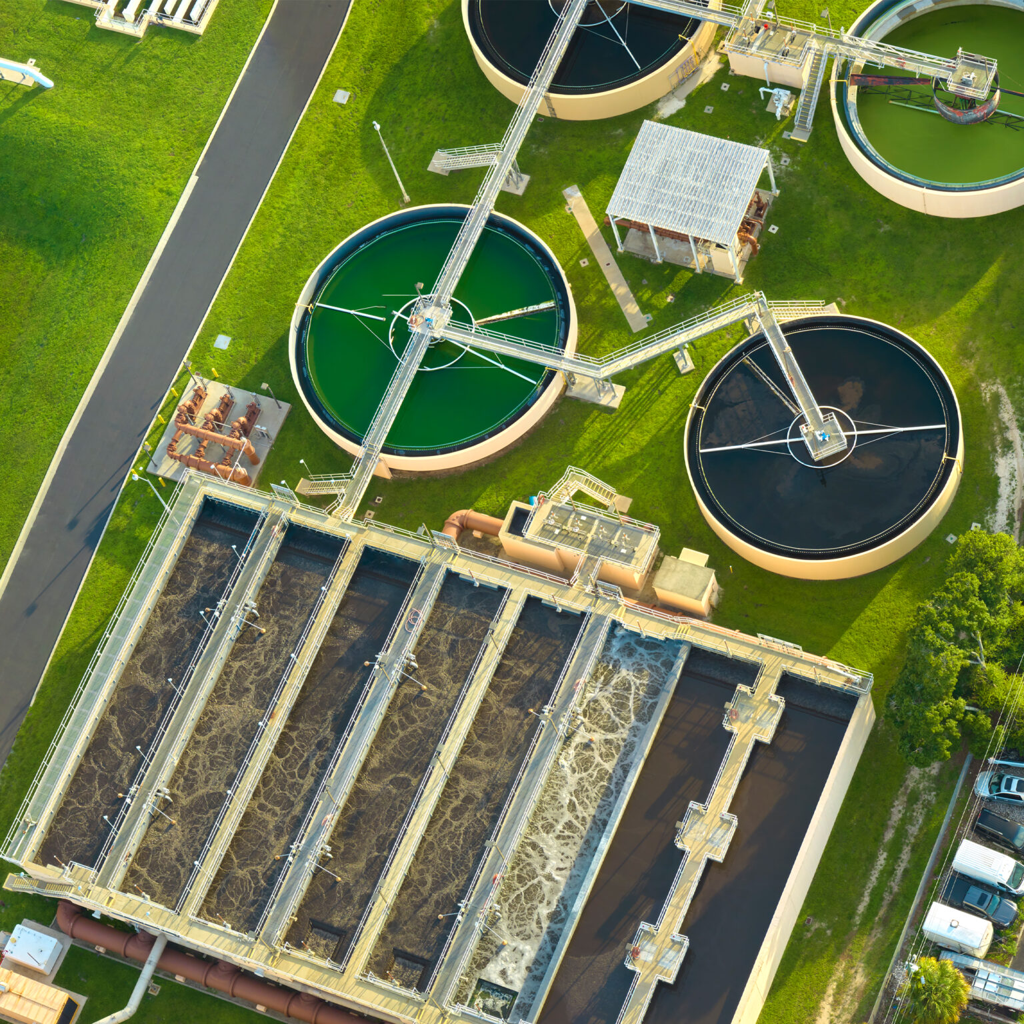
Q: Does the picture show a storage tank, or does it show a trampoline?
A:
storage tank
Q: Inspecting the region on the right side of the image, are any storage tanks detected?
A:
Yes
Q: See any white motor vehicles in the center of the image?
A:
No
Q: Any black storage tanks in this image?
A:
Yes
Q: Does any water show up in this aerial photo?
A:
Yes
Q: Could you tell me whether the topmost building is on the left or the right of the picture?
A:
right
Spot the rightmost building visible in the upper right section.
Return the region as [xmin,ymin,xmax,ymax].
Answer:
[724,11,841,90]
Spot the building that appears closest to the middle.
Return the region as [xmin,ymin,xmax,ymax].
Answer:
[498,492,660,596]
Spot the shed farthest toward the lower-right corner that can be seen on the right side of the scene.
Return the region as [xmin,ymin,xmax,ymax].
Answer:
[652,547,718,616]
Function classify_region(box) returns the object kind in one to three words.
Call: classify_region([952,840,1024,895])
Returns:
van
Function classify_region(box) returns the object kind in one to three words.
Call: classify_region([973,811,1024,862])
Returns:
truck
